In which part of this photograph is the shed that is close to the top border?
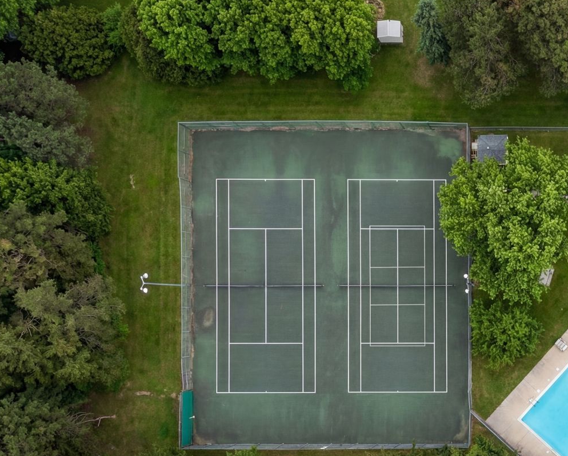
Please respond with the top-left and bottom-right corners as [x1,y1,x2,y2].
[375,14,403,43]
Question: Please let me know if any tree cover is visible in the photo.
Yes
